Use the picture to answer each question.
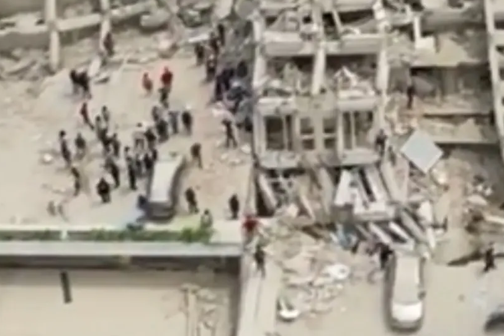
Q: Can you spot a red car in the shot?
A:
No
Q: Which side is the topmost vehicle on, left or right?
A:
left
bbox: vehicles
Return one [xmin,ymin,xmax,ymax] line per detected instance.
[487,304,504,326]
[142,148,184,215]
[385,251,427,331]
